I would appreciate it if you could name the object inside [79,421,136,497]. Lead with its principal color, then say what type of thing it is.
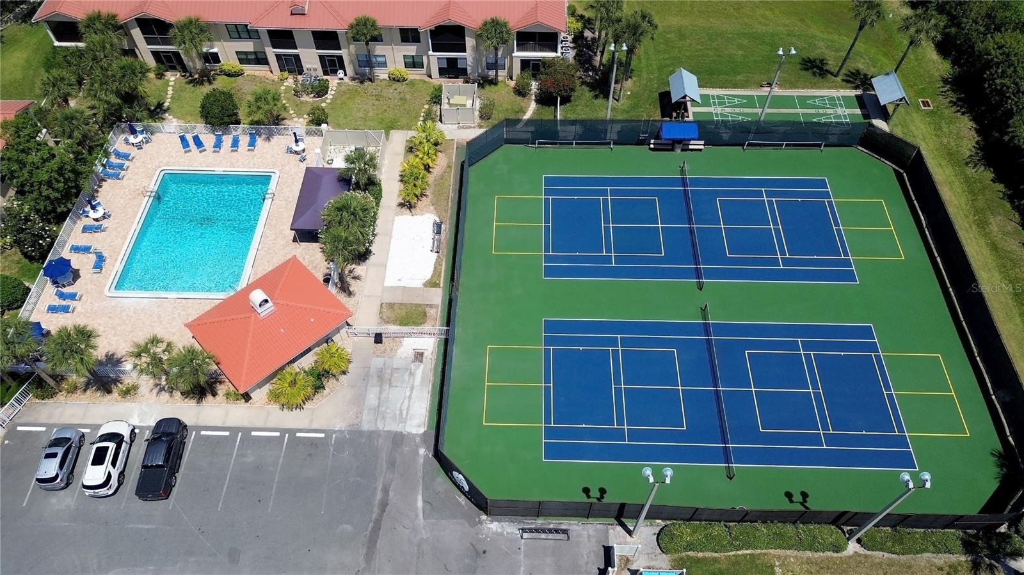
white car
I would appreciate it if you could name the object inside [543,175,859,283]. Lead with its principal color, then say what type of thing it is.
blue tennis court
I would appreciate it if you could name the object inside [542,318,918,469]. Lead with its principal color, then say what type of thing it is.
blue tennis court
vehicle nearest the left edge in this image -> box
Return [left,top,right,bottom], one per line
[31,426,85,493]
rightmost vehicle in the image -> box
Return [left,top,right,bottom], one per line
[130,414,188,497]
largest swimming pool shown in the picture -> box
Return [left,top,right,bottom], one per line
[104,168,278,298]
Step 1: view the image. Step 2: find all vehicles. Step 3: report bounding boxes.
[31,426,85,493]
[130,414,188,497]
[79,421,136,497]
